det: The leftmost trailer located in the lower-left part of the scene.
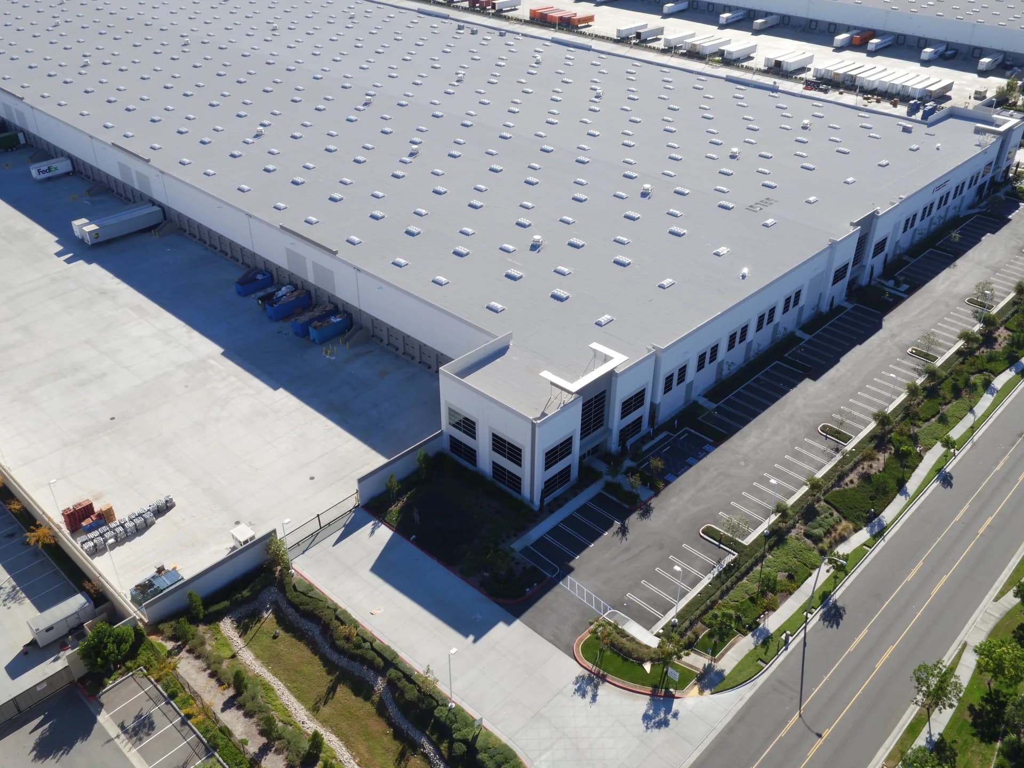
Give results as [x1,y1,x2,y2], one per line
[26,594,96,654]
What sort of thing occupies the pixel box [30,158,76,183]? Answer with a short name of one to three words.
trailer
